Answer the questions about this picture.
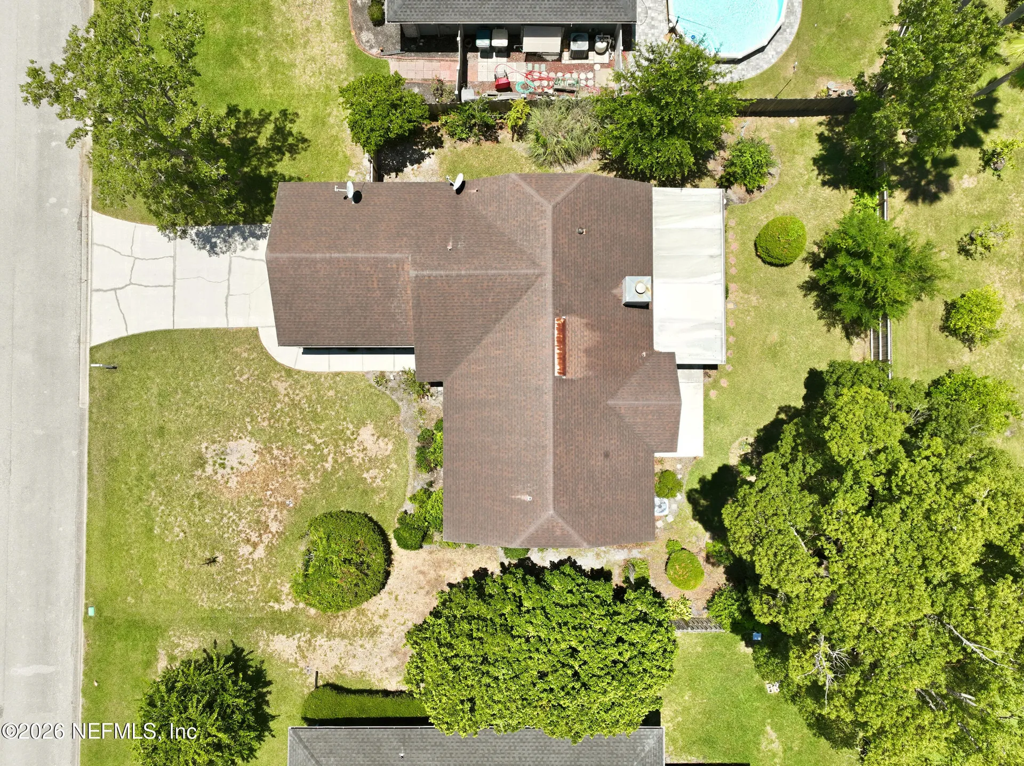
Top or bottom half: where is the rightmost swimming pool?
top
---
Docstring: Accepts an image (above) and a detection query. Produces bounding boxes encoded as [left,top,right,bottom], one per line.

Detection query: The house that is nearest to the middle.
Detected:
[264,171,683,550]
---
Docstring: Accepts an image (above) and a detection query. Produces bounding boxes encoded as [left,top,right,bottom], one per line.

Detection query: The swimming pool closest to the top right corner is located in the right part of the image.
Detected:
[663,0,786,60]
